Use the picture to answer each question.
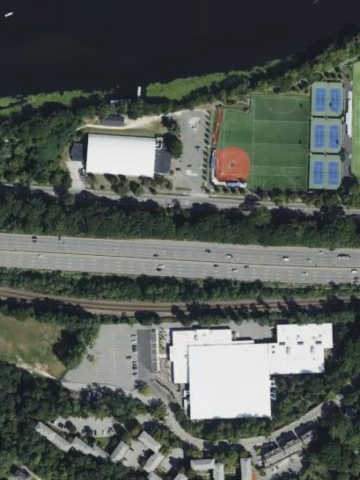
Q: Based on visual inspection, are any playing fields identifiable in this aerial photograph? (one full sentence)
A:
Yes, looking at the shot, I can spot a playing field.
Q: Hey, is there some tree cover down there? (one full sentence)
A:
Yes, tree cover shows up in the scene.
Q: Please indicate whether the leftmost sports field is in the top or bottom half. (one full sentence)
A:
You can find the leftmost sports field in the top half.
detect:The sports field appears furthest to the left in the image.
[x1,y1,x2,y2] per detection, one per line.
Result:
[211,95,308,191]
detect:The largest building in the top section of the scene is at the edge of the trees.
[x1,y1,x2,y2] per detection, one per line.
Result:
[87,134,157,178]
